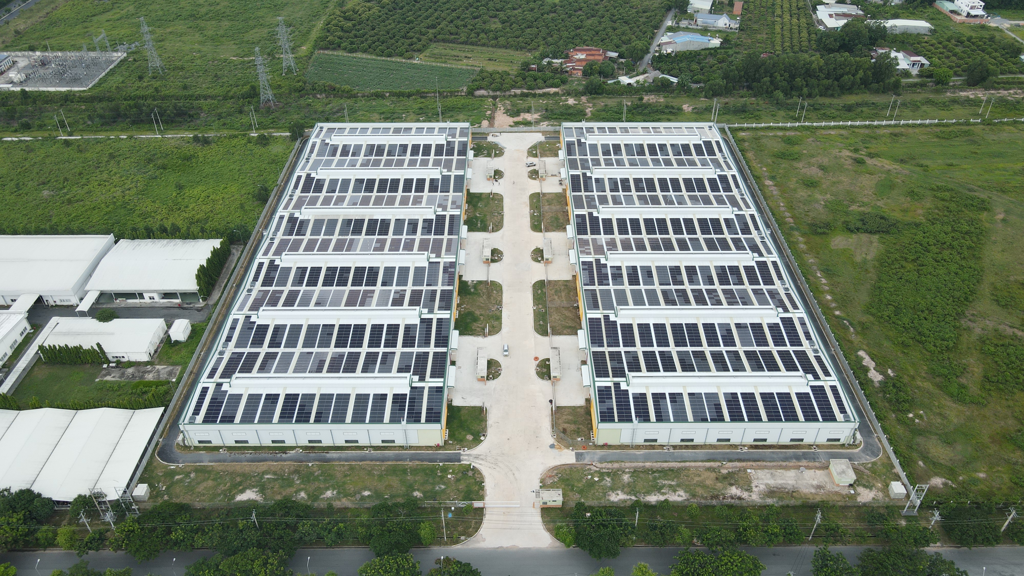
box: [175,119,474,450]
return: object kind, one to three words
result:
warehouse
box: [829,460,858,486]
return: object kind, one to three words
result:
building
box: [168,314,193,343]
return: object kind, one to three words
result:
building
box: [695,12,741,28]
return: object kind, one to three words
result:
house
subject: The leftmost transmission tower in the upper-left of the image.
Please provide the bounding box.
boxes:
[137,18,167,77]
